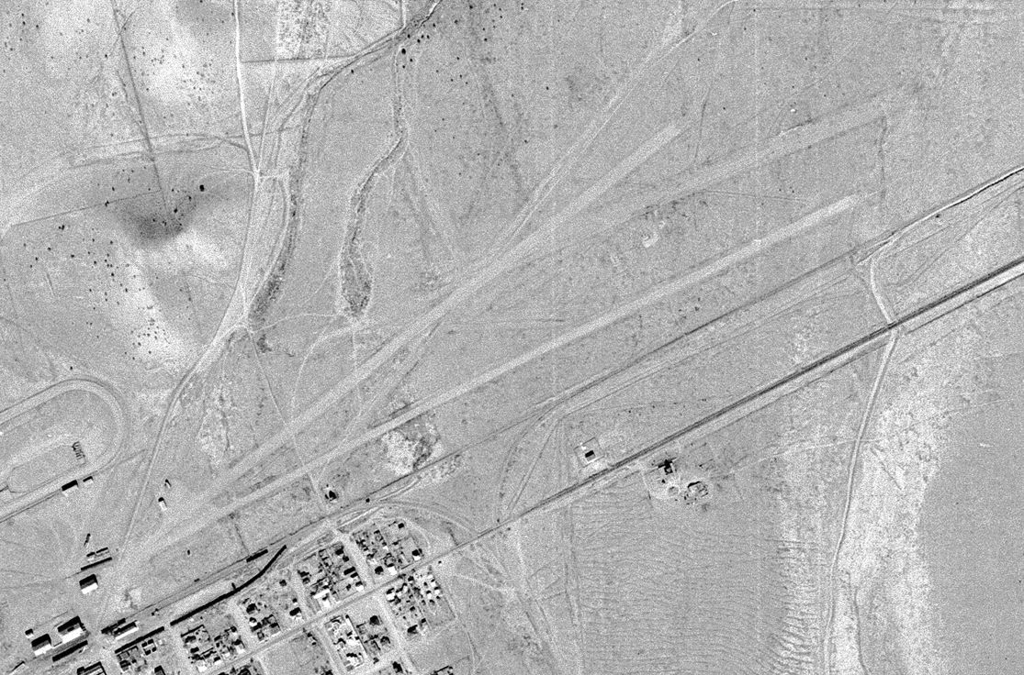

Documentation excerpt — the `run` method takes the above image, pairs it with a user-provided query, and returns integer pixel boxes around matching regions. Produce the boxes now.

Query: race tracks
[0,376,133,521]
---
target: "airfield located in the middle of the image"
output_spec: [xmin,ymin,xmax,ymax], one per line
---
[101,79,925,575]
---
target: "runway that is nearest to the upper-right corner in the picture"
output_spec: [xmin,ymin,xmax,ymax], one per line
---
[511,79,925,269]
